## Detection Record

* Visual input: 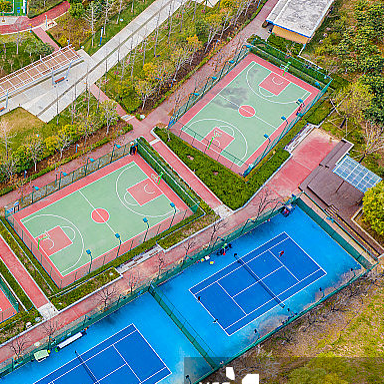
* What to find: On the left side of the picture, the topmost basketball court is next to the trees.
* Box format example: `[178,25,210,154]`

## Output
[7,151,193,289]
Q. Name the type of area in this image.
sports ground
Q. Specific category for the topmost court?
basketball court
